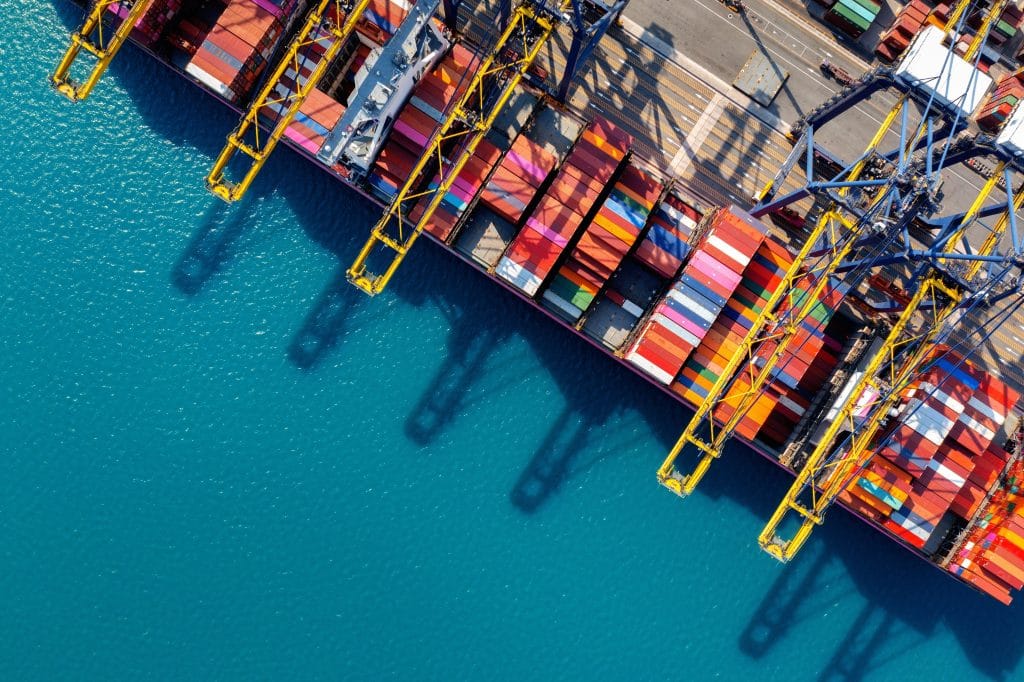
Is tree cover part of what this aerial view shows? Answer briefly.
No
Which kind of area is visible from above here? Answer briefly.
port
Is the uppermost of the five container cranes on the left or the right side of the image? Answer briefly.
left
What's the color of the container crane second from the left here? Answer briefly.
yellow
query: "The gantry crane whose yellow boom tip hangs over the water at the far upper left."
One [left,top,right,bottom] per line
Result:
[49,0,148,98]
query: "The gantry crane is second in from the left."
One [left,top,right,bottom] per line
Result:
[204,0,368,198]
